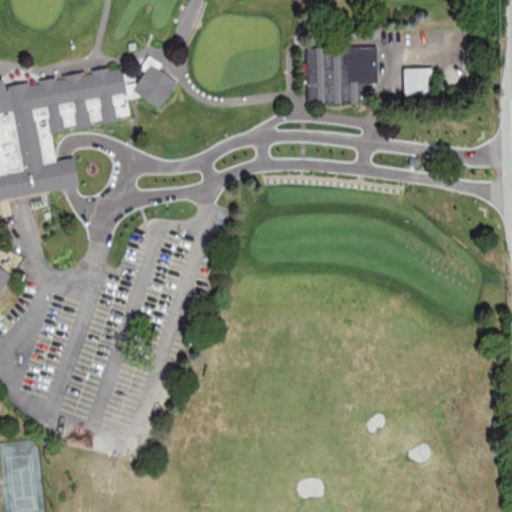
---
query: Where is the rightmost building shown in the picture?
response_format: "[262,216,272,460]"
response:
[404,66,433,96]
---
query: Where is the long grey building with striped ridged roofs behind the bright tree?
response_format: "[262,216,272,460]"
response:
[304,48,378,104]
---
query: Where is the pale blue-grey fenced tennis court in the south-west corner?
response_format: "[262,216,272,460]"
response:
[0,441,45,512]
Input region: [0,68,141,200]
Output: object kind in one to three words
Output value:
building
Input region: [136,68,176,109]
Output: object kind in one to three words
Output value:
building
